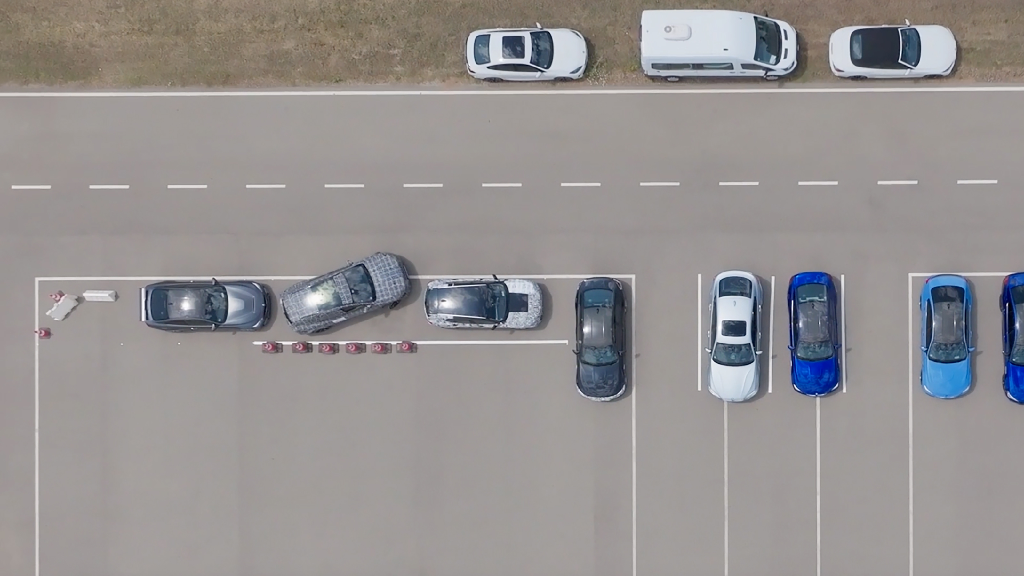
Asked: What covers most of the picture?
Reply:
paved ground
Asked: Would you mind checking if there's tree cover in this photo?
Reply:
No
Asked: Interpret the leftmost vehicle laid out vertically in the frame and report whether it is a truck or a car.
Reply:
car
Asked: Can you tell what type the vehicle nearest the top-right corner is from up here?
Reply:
car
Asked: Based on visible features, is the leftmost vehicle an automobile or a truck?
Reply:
automobile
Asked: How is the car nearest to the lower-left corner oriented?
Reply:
from side to side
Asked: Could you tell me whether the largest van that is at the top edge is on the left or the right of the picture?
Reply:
right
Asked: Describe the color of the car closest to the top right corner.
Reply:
white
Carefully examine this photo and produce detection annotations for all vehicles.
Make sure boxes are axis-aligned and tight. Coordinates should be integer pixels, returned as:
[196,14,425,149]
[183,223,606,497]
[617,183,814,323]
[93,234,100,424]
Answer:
[829,18,956,80]
[569,276,629,402]
[139,275,274,335]
[918,274,978,400]
[639,9,798,78]
[465,20,589,83]
[423,272,544,333]
[785,271,845,397]
[1000,272,1024,404]
[279,252,413,335]
[703,270,763,402]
